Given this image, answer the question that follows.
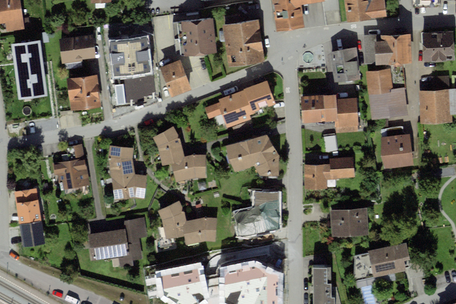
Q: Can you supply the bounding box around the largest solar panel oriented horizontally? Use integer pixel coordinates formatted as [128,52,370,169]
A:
[92,244,127,258]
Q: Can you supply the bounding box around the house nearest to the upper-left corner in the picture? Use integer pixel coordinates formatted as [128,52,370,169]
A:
[0,0,30,32]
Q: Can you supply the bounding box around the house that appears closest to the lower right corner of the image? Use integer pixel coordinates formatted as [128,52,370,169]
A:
[352,242,410,288]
